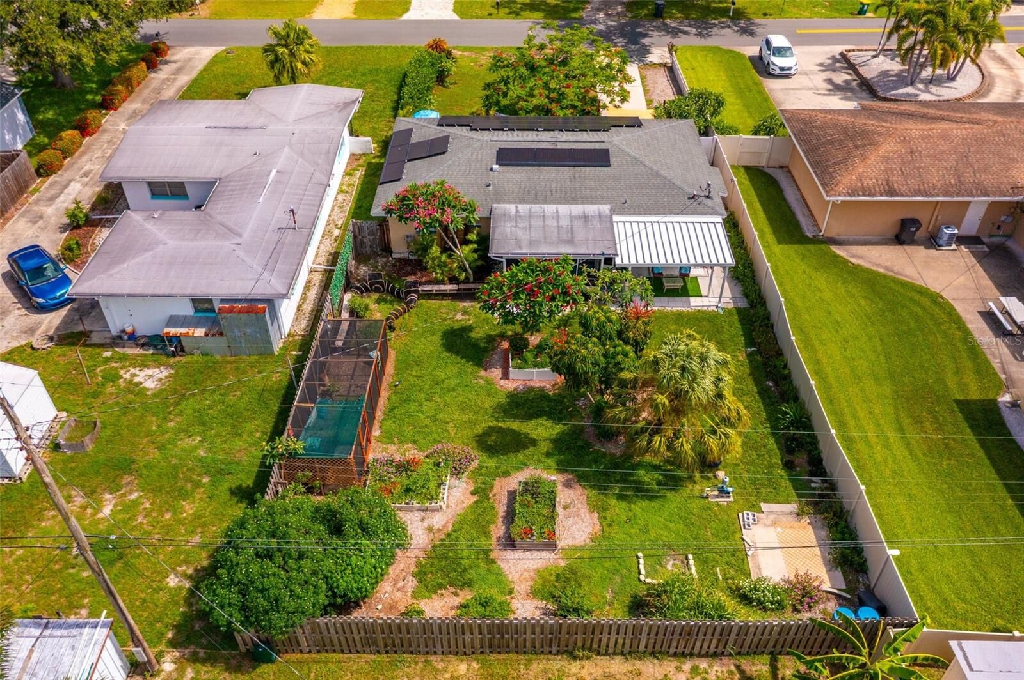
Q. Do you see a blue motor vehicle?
Yes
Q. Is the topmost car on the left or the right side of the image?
right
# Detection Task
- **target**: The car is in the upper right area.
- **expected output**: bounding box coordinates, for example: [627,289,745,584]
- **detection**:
[757,35,801,74]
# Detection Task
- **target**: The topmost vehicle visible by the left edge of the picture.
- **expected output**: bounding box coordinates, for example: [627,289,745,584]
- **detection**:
[5,247,69,312]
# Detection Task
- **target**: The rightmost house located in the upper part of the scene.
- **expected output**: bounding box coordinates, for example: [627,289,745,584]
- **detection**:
[774,101,1024,261]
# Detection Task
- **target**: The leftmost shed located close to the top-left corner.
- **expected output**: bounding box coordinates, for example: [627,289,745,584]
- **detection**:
[0,80,34,150]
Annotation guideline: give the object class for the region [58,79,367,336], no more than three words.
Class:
house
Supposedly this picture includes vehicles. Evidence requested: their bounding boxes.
[757,35,801,74]
[5,247,69,312]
